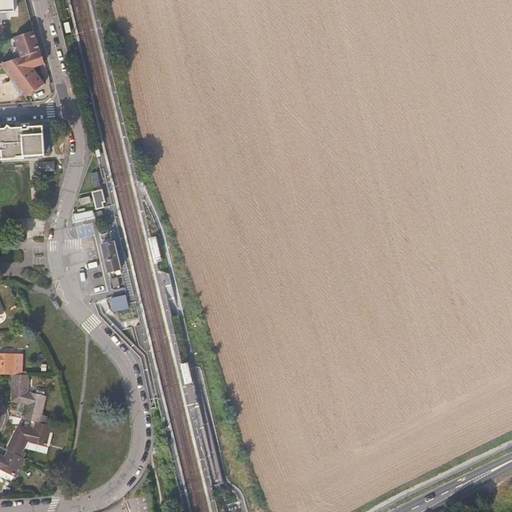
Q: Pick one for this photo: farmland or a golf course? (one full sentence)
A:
What you see here is farmland.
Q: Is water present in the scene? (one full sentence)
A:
No, there's no water in this view.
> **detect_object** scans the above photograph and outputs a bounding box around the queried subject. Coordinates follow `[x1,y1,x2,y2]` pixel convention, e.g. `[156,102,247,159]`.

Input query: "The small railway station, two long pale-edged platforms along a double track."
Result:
[88,0,219,512]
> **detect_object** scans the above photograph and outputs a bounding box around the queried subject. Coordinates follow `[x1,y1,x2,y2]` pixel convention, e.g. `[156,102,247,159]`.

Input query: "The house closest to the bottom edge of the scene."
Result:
[0,421,52,482]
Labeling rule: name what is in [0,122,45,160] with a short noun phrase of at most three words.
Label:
building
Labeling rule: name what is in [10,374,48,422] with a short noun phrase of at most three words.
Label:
house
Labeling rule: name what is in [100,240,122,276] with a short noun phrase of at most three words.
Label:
house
